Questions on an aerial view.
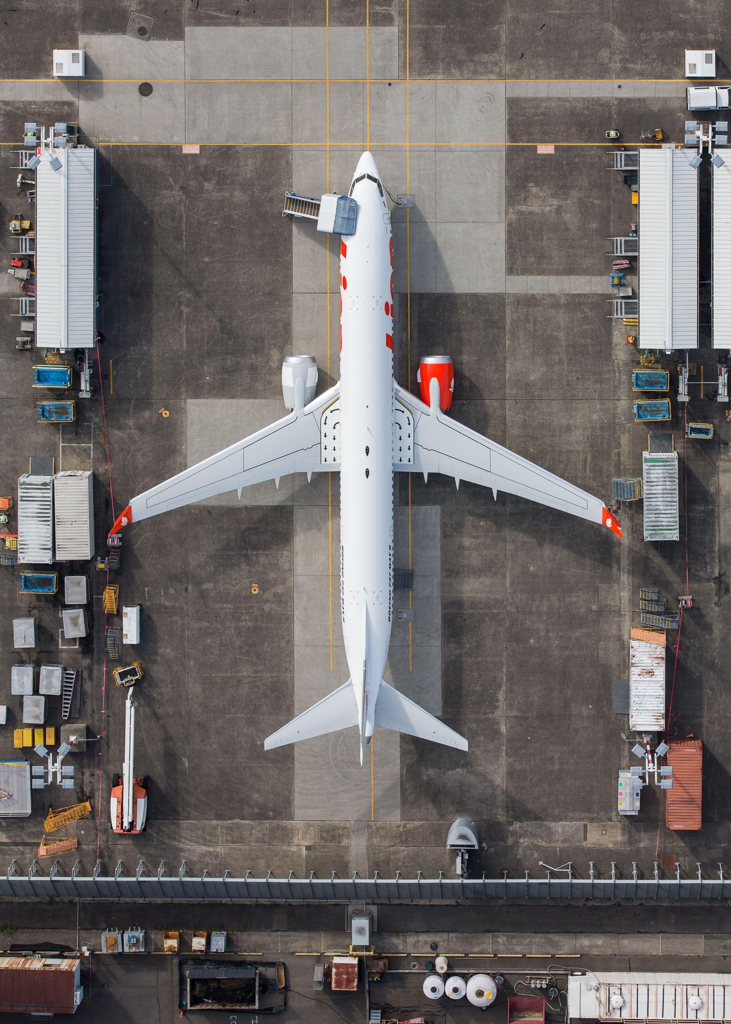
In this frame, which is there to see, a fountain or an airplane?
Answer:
airplane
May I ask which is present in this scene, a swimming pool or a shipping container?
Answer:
shipping container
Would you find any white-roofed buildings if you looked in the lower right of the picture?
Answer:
Yes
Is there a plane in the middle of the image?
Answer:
Yes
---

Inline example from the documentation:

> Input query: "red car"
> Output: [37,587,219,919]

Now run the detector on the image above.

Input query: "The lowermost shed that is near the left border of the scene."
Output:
[0,950,81,1020]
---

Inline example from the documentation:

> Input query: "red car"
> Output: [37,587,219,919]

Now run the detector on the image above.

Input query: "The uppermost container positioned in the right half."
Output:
[642,452,678,540]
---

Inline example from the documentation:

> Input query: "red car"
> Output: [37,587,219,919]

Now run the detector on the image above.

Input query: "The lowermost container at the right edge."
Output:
[667,740,702,830]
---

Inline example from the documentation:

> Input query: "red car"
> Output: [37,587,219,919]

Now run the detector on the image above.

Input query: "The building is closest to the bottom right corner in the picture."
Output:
[568,970,731,1023]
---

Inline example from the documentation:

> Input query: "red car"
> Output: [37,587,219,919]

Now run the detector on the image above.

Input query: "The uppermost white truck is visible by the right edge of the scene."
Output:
[685,87,731,110]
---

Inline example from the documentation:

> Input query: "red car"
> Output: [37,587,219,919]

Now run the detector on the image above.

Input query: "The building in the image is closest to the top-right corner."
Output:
[685,49,715,78]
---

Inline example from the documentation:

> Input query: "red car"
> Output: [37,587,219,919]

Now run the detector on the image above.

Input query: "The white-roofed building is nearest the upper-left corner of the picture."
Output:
[53,49,85,77]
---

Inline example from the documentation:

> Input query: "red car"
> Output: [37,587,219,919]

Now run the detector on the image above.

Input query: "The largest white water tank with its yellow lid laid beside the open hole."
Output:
[467,973,497,1006]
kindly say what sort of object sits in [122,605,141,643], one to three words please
trailer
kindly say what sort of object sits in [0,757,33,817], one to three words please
building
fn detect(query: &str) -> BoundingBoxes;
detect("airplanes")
[107,151,623,764]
